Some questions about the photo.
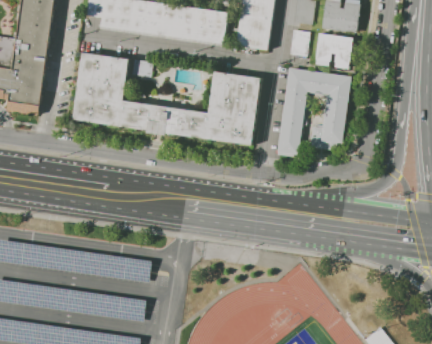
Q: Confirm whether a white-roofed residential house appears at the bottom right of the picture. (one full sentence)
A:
No, looking at the bottom right of the picture, there is no white-roofed residential house.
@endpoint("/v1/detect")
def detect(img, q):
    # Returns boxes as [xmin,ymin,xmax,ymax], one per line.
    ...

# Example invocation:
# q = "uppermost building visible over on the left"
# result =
[88,0,228,45]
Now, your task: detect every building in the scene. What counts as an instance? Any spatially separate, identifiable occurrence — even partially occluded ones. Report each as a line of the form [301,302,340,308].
[290,30,311,58]
[316,34,354,70]
[72,52,261,145]
[0,0,54,115]
[278,68,352,156]
[322,0,360,33]
[136,60,153,78]
[297,0,316,26]
[88,0,228,45]
[237,0,276,51]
